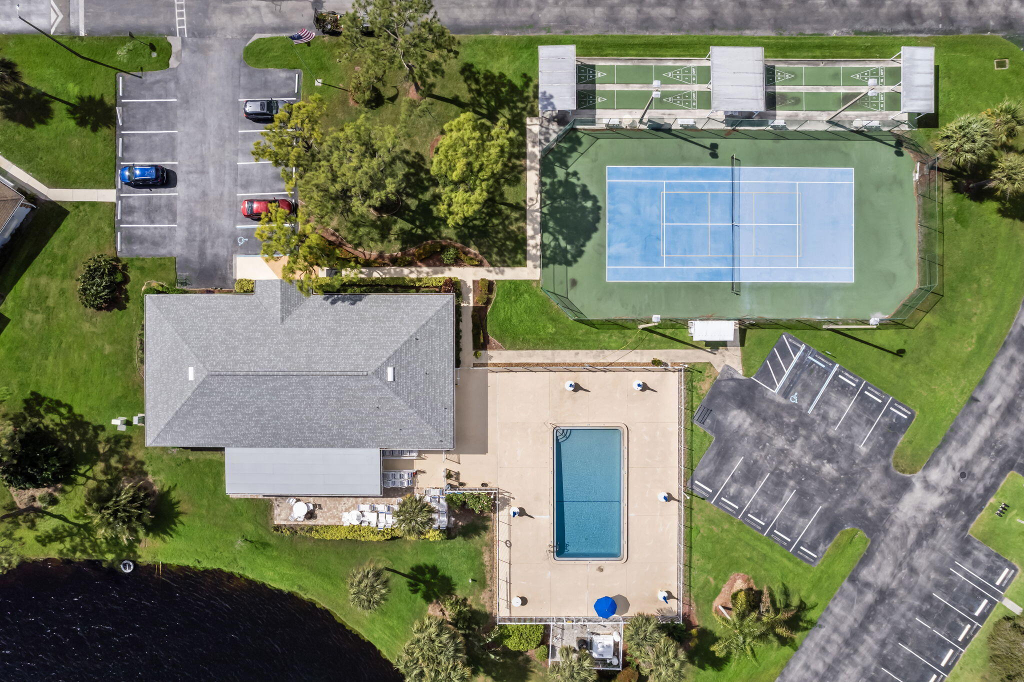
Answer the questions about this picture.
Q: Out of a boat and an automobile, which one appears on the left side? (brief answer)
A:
automobile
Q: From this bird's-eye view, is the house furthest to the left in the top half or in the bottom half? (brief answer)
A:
top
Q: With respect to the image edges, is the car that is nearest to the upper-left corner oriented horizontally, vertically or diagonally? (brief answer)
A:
horizontally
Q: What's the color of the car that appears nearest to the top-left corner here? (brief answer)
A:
blue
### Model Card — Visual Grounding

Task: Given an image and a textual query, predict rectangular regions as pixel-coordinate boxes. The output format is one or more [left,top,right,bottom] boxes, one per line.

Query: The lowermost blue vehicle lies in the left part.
[121,162,168,186]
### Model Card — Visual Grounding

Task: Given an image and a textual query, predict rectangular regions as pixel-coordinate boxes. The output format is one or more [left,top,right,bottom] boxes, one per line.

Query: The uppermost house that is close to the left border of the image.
[0,164,41,258]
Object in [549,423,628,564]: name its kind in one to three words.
swimming pool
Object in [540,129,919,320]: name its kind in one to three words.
tennis court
